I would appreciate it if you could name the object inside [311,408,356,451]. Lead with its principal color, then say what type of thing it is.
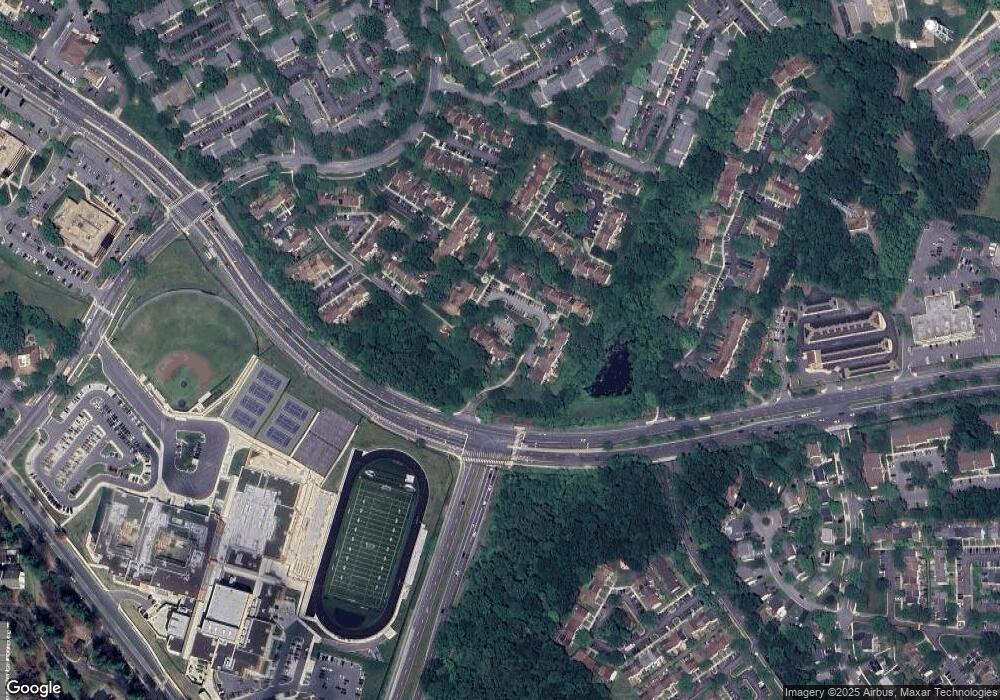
gray sports court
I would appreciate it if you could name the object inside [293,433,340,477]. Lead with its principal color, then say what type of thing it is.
gray sports court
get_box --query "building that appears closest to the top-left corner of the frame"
[60,29,96,68]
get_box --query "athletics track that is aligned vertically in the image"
[306,448,429,638]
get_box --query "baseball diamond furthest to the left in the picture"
[113,289,258,411]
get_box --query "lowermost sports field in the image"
[322,458,420,629]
